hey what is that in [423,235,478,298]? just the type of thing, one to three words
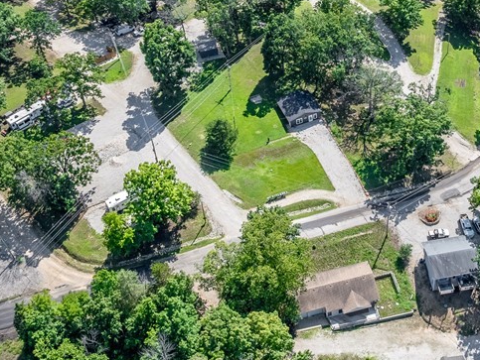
house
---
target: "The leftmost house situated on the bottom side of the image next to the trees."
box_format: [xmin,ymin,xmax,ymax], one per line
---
[297,263,383,331]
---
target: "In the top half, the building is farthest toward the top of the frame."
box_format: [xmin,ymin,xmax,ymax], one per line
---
[198,39,219,59]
